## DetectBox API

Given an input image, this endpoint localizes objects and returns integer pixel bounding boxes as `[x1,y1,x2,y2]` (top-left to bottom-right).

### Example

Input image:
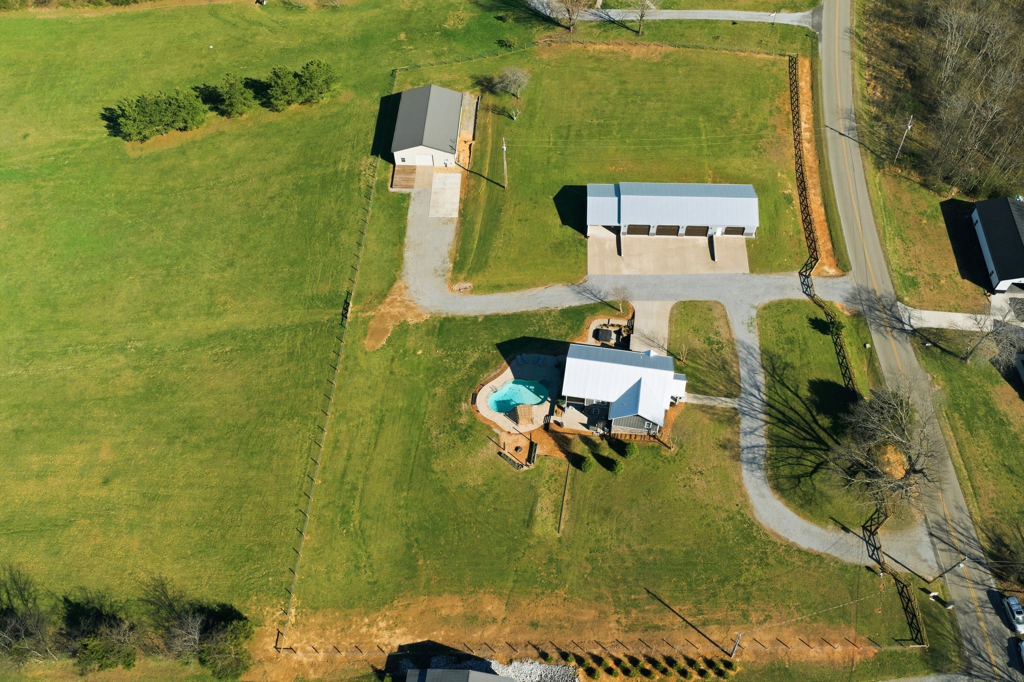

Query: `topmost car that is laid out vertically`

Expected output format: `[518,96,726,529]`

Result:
[1001,599,1024,642]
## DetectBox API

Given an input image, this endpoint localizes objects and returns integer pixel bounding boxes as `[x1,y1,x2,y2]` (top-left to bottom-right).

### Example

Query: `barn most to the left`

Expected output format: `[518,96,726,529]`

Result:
[391,84,463,168]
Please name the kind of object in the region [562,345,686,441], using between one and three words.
house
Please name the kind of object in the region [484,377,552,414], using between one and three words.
swimming pool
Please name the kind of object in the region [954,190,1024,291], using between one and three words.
house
